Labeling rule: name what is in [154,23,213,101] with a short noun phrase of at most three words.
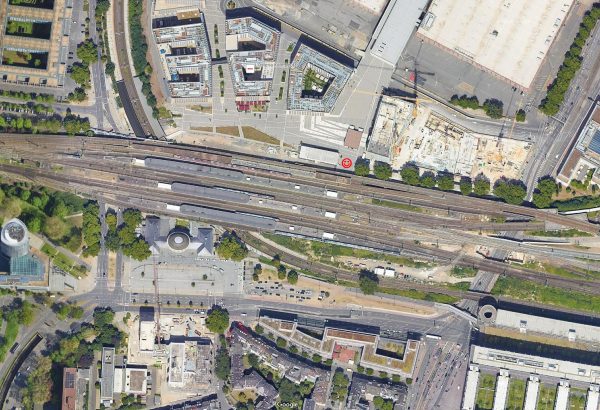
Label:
building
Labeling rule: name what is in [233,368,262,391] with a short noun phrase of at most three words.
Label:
house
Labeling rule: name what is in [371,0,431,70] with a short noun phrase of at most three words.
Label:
building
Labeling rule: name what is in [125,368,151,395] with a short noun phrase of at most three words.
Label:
house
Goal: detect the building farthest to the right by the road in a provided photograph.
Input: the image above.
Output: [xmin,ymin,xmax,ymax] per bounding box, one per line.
[558,102,600,184]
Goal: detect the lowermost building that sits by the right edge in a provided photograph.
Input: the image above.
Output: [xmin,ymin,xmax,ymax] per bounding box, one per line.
[472,346,600,385]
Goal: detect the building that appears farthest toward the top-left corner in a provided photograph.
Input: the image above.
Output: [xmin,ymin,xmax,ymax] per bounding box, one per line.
[0,0,73,92]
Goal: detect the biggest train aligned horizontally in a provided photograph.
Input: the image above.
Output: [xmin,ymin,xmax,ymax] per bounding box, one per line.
[274,230,401,258]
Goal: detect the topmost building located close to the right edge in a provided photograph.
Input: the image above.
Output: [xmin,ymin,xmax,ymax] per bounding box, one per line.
[416,0,577,94]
